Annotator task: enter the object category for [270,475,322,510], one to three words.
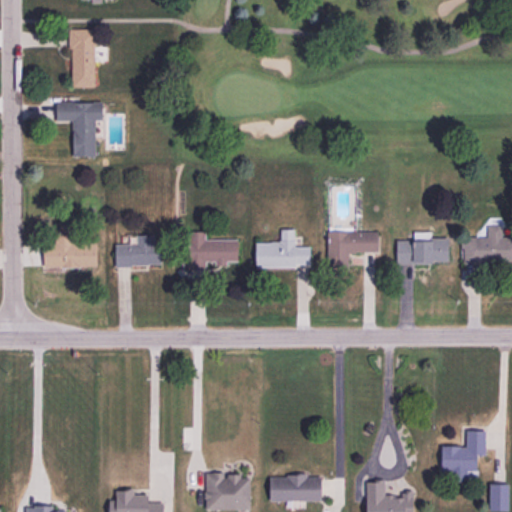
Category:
house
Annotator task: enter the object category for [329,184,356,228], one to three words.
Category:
swimming pool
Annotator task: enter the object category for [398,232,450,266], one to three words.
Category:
house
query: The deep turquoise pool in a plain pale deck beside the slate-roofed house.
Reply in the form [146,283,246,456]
[106,113,126,151]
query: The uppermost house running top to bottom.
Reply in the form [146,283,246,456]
[69,29,96,88]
